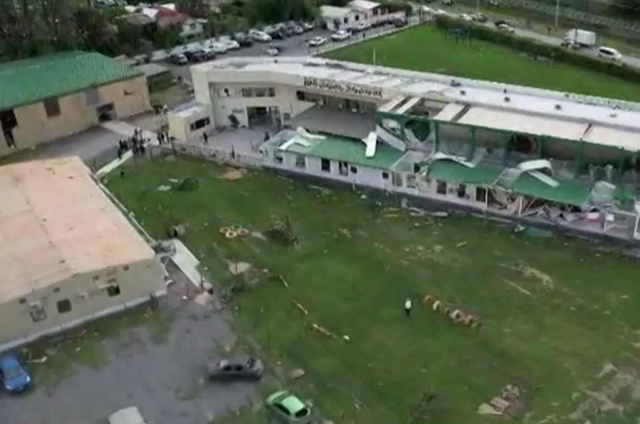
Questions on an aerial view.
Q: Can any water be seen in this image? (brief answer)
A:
No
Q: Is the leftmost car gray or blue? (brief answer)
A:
blue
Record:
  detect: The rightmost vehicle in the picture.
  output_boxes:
[598,46,623,61]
